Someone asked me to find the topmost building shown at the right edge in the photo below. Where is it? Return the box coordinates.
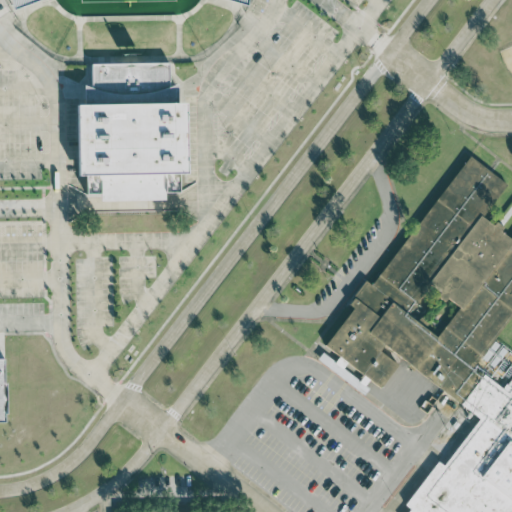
[325,156,512,403]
